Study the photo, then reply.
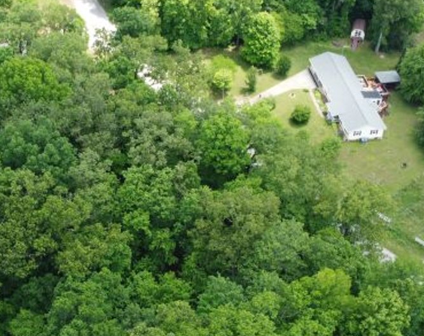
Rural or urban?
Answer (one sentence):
This place is rural.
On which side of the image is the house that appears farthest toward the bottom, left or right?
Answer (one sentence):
The house that appears farthest toward the bottom is on the right side of the image.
